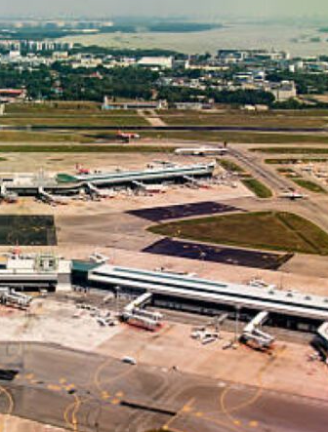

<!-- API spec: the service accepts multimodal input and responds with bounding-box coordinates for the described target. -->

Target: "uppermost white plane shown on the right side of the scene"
[173,140,226,156]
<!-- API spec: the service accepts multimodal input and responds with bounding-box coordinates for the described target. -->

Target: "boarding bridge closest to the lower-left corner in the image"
[3,285,35,306]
